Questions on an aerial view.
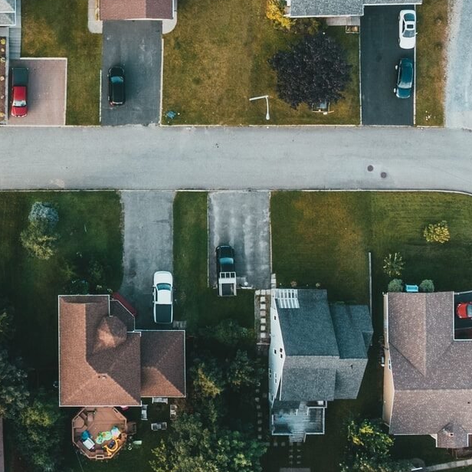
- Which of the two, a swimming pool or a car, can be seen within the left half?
car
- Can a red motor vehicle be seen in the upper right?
No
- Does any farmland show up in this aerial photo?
No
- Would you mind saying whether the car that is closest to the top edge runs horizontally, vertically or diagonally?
vertically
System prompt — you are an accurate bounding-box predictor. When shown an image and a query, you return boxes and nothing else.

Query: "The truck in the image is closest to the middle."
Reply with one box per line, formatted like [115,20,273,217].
[216,246,237,297]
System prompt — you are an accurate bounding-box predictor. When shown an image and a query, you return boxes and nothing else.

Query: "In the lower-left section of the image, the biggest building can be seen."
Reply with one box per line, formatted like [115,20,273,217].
[58,295,187,407]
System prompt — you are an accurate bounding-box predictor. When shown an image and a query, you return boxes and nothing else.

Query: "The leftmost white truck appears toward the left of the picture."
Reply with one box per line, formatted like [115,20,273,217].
[153,271,175,323]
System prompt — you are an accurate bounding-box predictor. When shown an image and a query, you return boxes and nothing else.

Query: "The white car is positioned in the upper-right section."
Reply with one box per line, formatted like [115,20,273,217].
[398,10,418,49]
